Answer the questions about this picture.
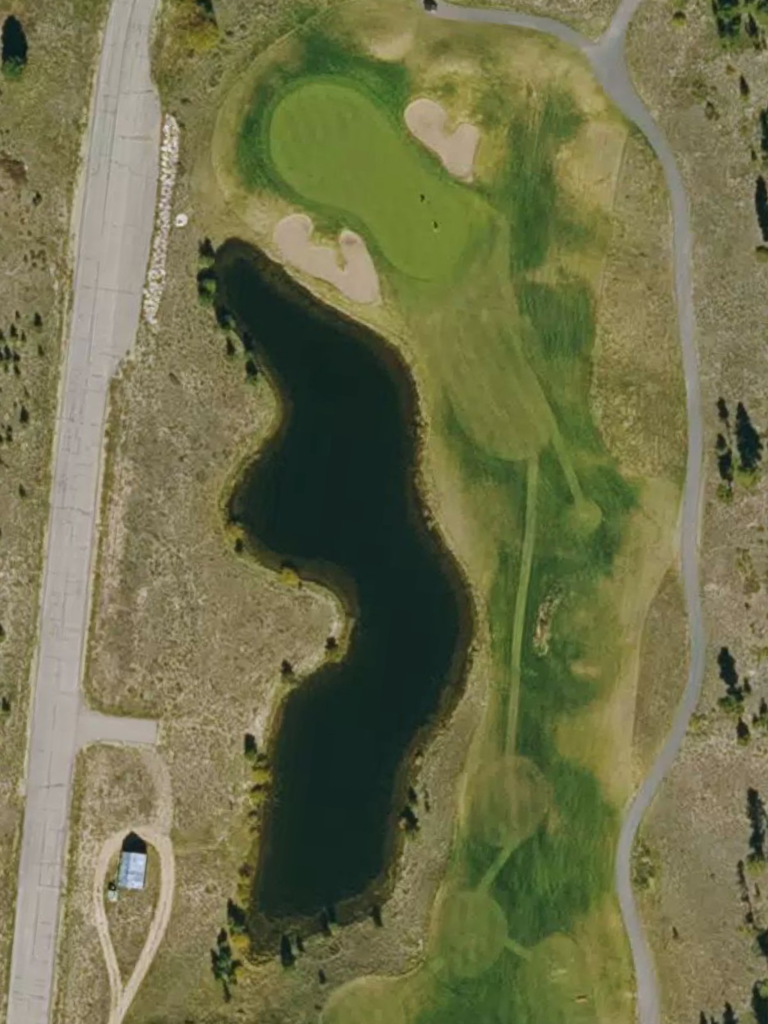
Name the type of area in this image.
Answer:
golf course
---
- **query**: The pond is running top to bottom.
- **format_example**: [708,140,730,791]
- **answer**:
[214,238,474,957]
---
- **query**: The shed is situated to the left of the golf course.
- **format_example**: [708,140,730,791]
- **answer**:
[117,854,145,892]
